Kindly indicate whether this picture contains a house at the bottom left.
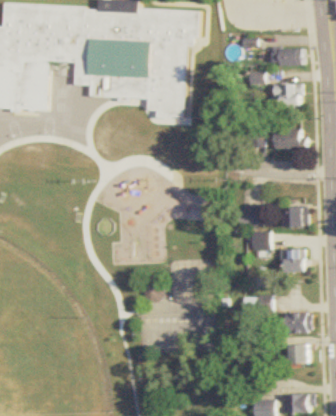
No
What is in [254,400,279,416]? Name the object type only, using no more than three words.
building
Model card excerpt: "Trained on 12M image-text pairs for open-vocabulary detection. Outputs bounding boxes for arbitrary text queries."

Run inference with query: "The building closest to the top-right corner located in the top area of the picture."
[272,49,309,66]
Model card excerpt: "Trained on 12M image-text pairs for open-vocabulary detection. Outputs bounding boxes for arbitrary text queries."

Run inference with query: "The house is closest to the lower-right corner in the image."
[291,394,316,416]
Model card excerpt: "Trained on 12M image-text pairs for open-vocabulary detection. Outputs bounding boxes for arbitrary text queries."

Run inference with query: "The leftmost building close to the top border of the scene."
[0,0,206,118]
